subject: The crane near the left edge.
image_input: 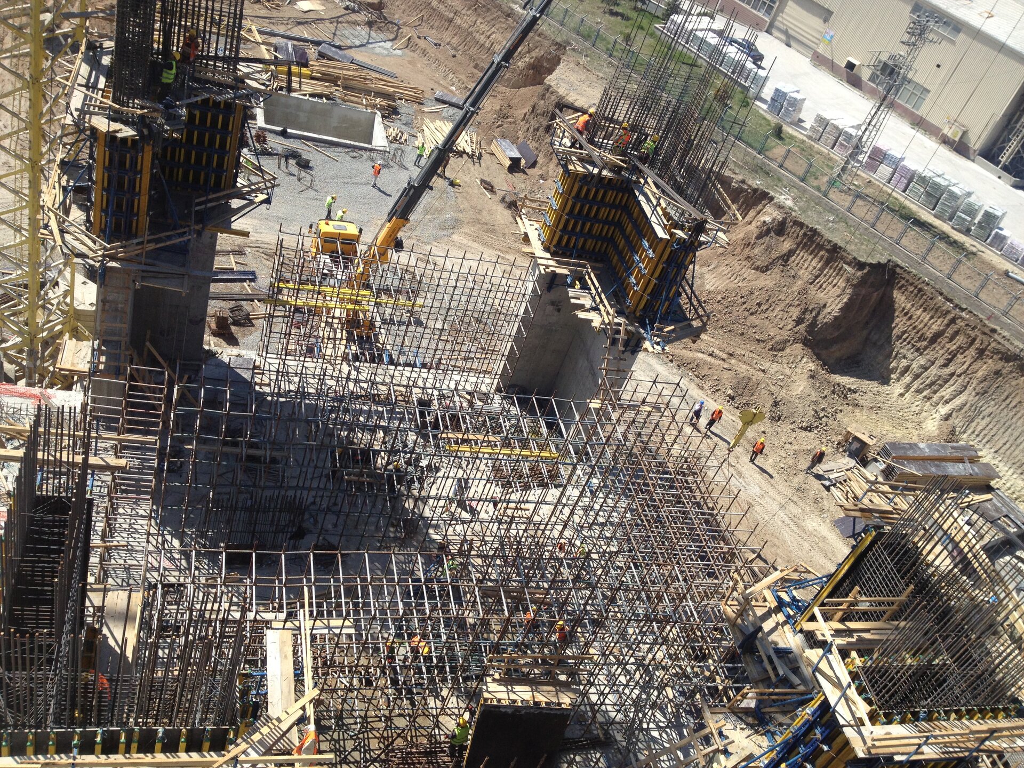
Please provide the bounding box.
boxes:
[0,0,91,372]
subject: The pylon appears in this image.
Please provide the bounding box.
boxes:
[824,0,955,183]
